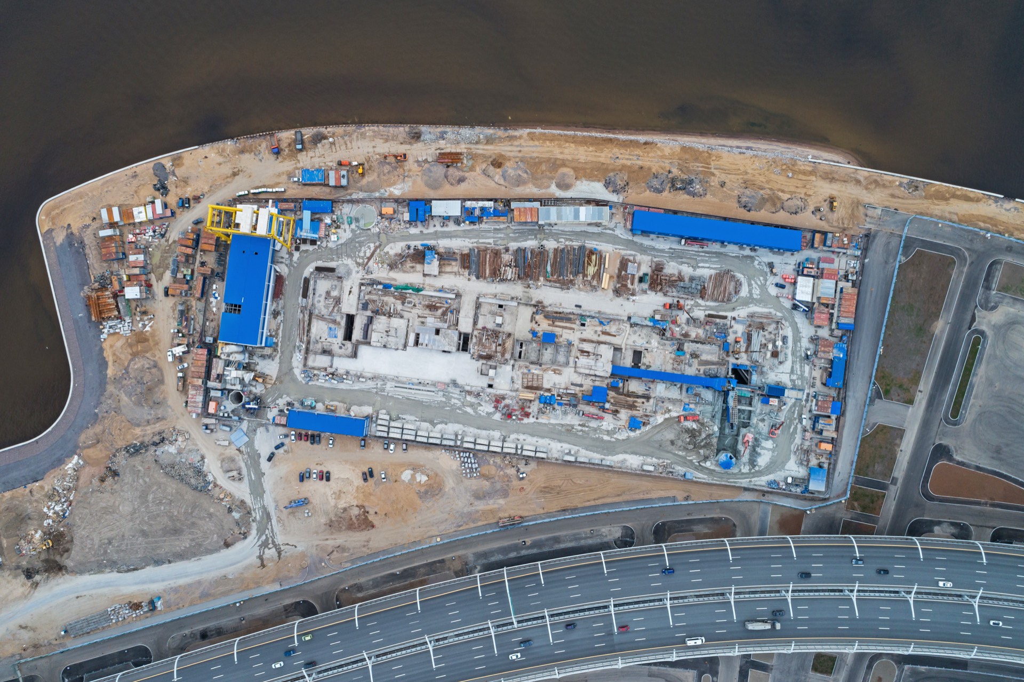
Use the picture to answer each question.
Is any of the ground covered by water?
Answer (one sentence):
Yes, there is water in the image.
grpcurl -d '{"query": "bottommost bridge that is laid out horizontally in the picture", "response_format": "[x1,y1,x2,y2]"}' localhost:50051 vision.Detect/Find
[84,533,1024,682]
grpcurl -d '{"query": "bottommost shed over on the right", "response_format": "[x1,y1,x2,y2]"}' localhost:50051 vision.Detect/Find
[805,466,827,491]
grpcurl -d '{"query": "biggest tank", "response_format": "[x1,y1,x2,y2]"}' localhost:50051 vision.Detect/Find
[353,204,378,229]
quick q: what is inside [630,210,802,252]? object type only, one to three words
shed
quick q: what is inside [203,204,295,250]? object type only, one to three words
container crane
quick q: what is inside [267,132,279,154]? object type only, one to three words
vehicle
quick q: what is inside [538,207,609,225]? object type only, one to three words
shed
